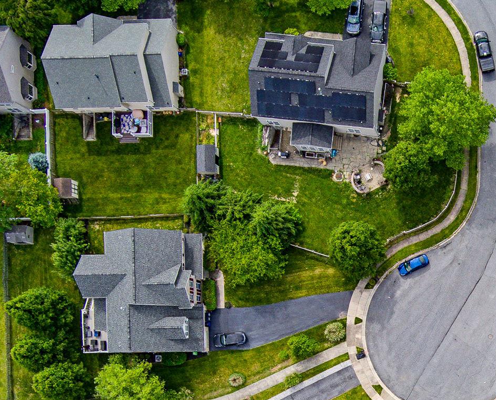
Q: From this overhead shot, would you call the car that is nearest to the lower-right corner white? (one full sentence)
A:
No, the car that is nearest to the lower-right corner is blue.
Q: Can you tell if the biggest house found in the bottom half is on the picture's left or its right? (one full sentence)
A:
The biggest house found in the bottom half is on the left side of the image.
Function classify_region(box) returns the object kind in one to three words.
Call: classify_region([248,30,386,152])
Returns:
house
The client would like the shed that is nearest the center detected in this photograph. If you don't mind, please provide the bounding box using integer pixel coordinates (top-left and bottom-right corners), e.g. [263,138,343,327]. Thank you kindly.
[196,143,220,177]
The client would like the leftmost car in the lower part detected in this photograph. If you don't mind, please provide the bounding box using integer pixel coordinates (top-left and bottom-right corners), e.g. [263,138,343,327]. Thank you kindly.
[212,332,248,349]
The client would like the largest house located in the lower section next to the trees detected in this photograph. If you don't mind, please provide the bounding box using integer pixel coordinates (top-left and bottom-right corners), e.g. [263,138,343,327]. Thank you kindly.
[73,227,209,353]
